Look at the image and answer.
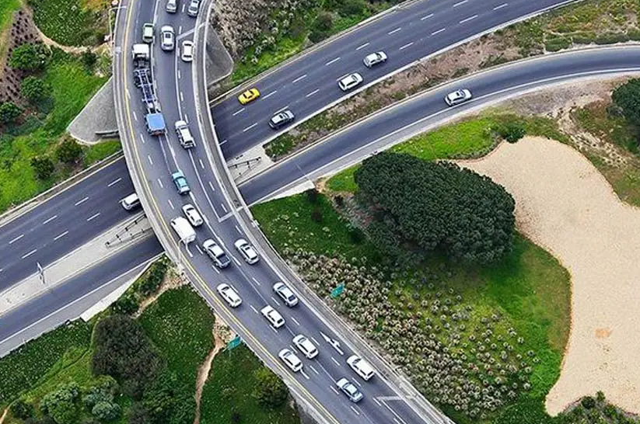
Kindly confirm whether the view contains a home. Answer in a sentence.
No, I can't see a single home in this photo.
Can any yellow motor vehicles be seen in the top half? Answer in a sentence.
Yes, a yellow motor vehicle appears in the top half.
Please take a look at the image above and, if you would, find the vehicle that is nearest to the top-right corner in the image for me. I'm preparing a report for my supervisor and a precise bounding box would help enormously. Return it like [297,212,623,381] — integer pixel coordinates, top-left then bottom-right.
[444,90,472,106]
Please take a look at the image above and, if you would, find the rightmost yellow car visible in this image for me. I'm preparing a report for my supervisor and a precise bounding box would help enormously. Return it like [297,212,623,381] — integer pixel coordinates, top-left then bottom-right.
[237,89,261,106]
